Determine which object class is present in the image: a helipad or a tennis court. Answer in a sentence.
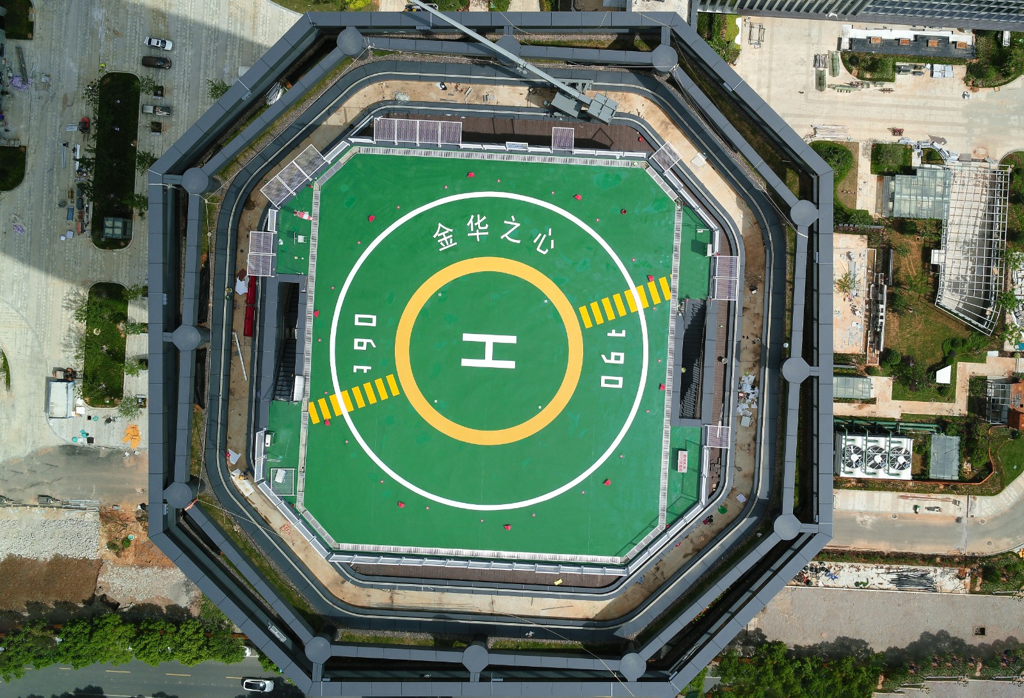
There is a helipad in the scene.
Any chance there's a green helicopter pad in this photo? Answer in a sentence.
Yes, the frame does contain a green helicopter pad.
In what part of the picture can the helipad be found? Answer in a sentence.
The helipad sits in the center section of the image.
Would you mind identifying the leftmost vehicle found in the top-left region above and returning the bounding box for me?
[77,116,89,136]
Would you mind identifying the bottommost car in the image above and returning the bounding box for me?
[245,677,276,692]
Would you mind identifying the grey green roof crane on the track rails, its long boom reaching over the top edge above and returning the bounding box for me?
[407,0,618,126]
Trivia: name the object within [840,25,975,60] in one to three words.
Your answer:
building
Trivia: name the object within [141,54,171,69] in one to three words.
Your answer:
car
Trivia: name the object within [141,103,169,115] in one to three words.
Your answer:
vehicle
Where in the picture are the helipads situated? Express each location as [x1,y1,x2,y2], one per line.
[246,117,738,579]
